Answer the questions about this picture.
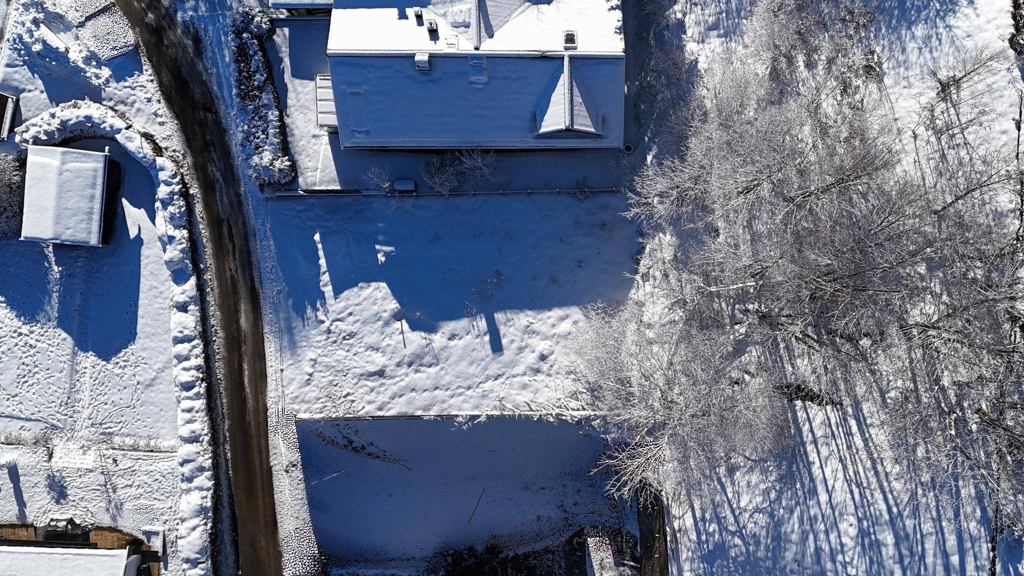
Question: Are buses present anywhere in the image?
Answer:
No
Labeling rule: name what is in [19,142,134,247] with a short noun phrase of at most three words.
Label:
shed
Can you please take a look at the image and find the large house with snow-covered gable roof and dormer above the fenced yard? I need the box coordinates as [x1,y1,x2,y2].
[317,0,627,152]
